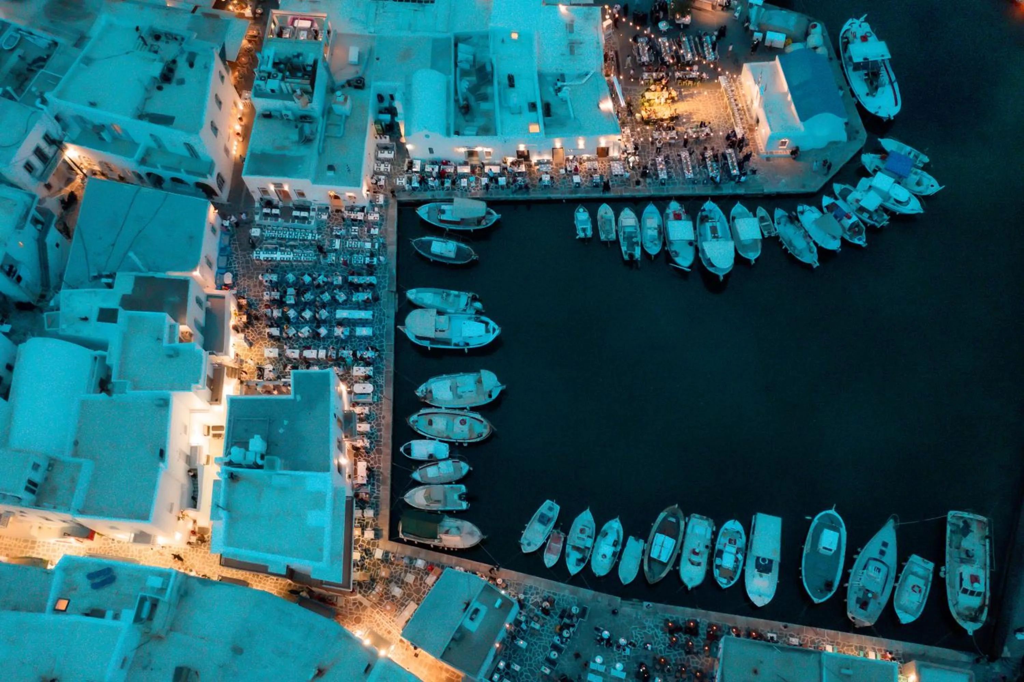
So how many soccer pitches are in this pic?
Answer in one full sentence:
No soccer pitches are visible.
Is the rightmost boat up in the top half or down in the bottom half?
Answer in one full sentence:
Seen from above, the rightmost boat lies in the bottom half of the view.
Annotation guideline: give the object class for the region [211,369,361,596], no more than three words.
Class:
house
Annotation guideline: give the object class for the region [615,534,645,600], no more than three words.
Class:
boat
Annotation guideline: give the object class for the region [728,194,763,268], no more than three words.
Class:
boat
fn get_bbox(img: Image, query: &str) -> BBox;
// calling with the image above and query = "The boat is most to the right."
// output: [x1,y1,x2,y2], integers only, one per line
[940,513,991,656]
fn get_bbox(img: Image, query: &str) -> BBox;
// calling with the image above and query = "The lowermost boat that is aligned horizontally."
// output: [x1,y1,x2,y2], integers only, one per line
[397,513,520,572]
